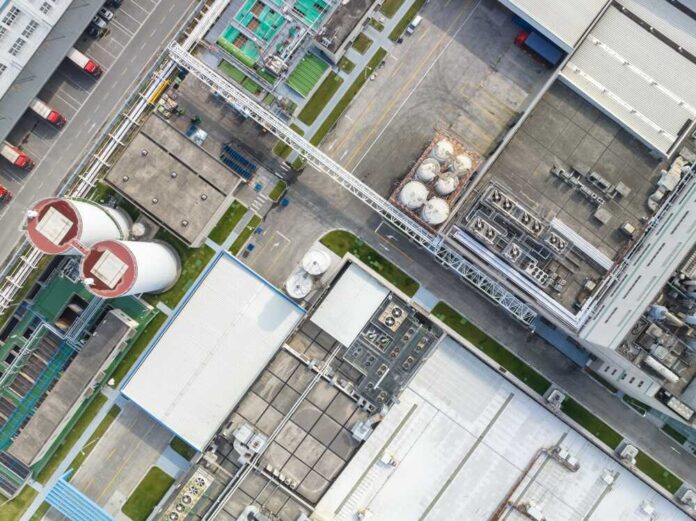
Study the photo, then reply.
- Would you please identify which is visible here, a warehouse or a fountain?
warehouse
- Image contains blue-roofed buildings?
Yes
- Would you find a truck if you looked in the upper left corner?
Yes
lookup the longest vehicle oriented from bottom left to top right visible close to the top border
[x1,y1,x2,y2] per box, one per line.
[404,16,421,37]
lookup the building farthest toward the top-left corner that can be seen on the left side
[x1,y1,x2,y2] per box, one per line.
[0,0,109,147]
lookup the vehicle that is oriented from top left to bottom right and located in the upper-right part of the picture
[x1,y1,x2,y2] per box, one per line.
[512,29,561,67]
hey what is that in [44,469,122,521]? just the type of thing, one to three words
building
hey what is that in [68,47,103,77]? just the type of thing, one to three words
truck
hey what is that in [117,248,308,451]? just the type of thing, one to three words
warehouse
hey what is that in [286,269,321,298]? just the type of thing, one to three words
storage tank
